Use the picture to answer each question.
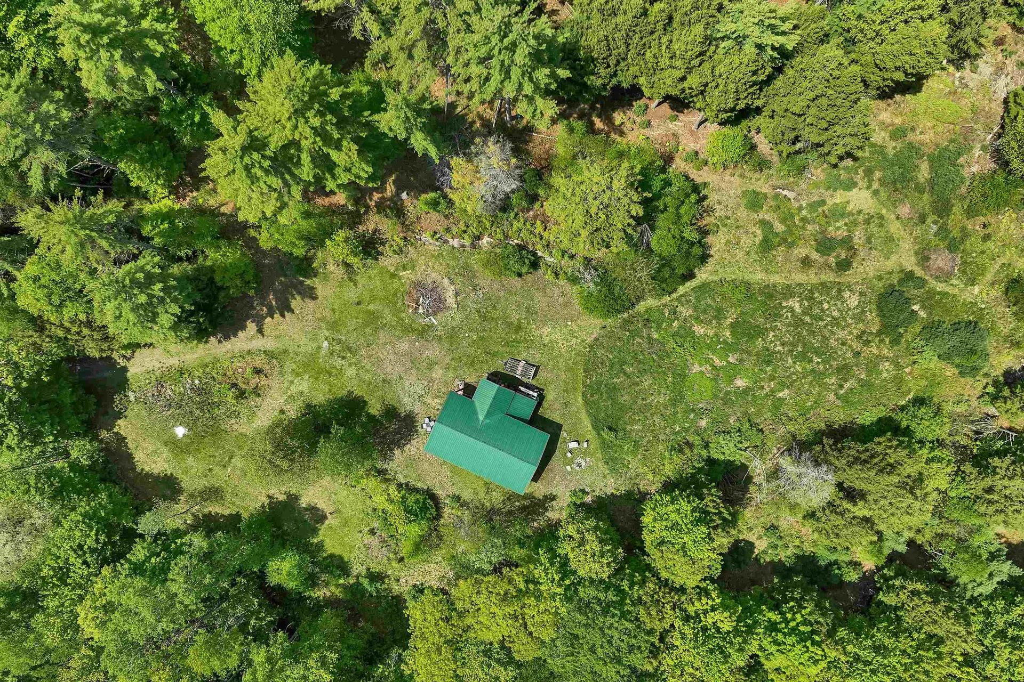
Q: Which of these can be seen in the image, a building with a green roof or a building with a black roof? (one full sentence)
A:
It is a building with a green roof that can be seen here.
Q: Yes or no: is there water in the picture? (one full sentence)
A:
No, water can't be seen anywhere here.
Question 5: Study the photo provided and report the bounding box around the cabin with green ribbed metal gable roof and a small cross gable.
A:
[423,367,550,496]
